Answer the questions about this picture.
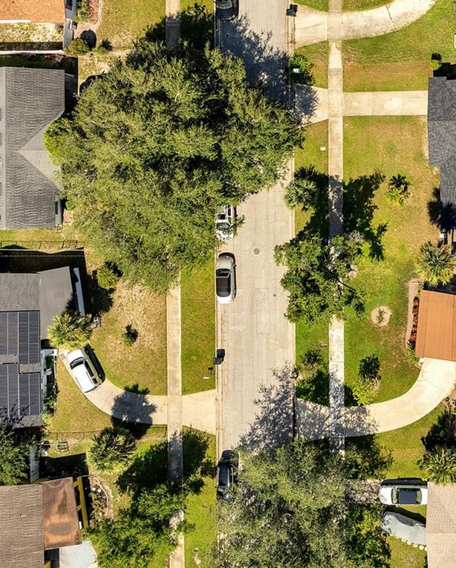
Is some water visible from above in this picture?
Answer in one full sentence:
No, no water is visible.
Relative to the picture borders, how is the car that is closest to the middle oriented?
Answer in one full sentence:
The car that is closest to the middle is oriented up and down.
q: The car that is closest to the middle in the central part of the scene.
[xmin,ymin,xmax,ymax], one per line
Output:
[213,252,238,304]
